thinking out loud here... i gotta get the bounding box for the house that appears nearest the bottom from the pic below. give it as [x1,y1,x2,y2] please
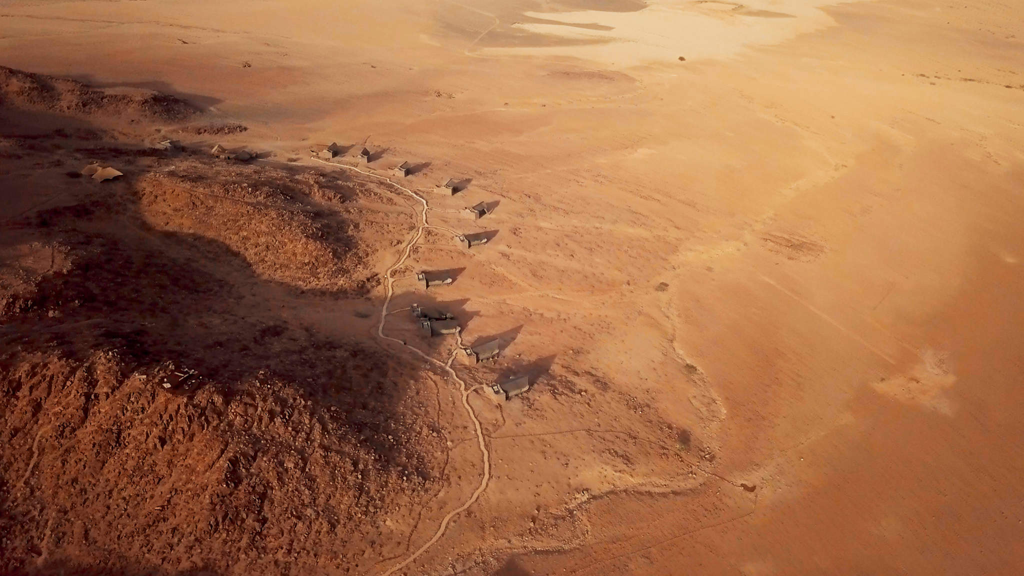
[482,375,532,401]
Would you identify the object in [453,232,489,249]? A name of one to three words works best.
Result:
house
